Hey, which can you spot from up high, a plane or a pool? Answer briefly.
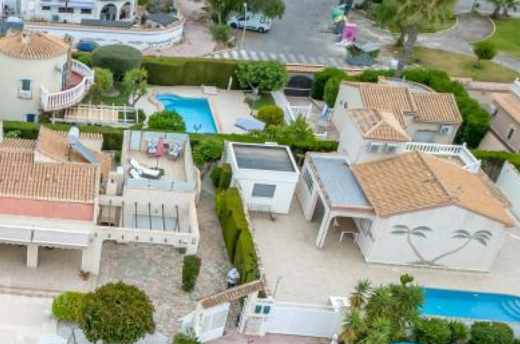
pool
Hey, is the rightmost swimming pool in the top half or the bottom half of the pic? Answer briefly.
bottom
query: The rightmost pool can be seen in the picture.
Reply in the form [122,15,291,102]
[411,282,520,327]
